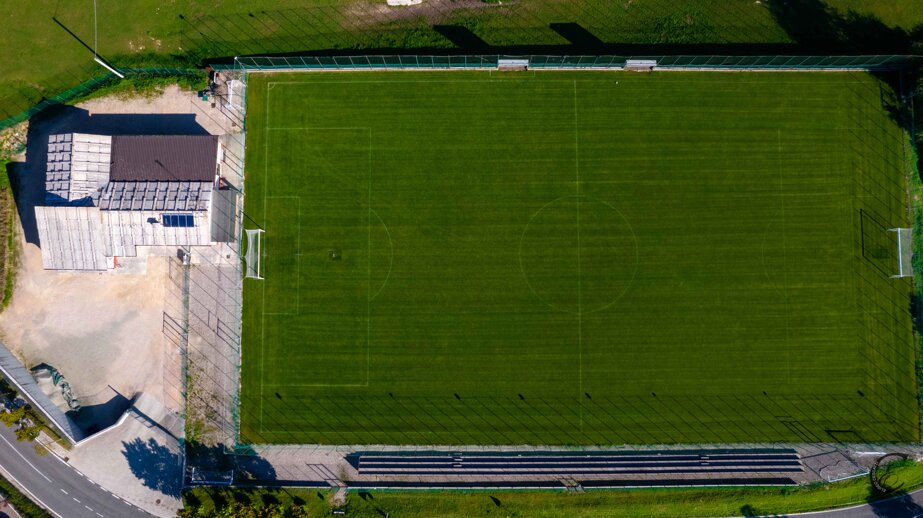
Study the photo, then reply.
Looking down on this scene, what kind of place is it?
sports ground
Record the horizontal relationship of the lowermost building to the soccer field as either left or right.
to its left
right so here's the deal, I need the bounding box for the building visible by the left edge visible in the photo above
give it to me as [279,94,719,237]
[34,132,240,271]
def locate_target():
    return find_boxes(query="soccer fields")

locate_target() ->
[240,69,919,444]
